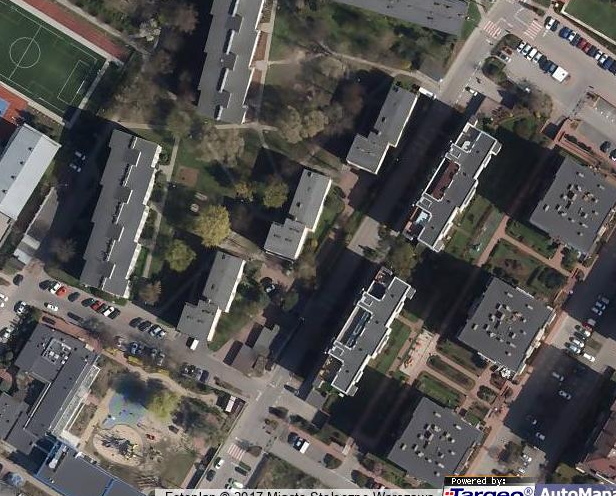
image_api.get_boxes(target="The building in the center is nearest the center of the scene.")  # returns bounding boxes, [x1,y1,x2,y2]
[265,169,333,261]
